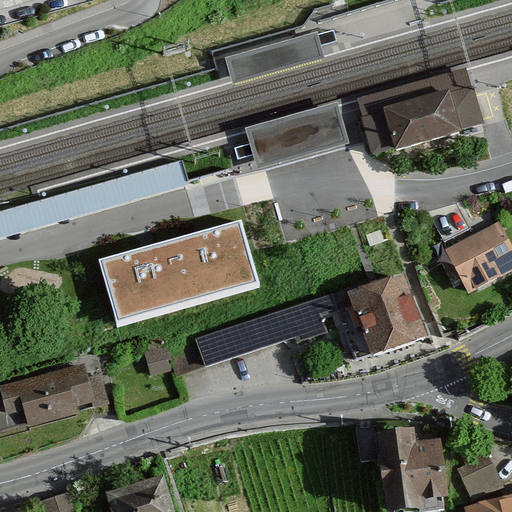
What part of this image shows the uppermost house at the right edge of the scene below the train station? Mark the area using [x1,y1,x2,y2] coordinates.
[441,222,512,294]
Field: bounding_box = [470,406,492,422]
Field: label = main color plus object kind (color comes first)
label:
white car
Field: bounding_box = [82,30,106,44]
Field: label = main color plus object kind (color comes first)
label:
white car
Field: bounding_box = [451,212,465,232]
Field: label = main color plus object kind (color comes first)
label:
red car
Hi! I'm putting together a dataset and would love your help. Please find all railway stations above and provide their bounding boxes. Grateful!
[358,68,484,154]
